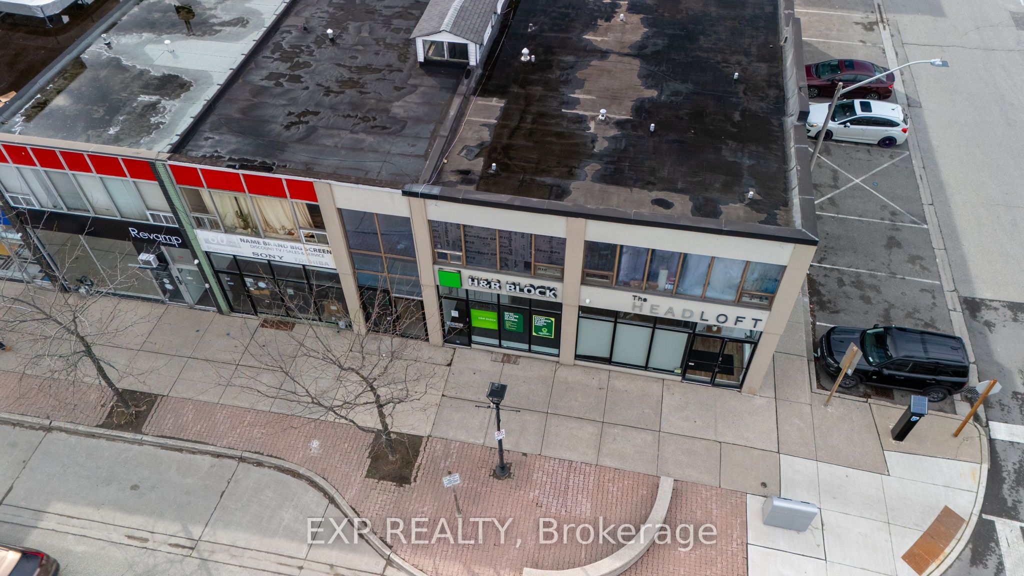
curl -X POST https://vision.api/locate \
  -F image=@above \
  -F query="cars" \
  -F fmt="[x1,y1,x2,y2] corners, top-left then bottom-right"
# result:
[811,101,914,150]
[806,60,898,103]
[0,533,57,576]
[822,321,974,403]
